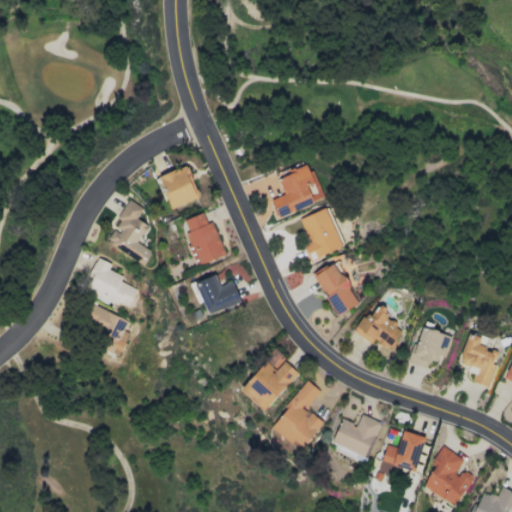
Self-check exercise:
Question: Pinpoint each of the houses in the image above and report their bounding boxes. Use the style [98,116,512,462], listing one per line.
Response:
[92,253,140,310]
[244,361,300,410]
[156,166,200,208]
[428,450,476,508]
[408,322,456,370]
[190,276,244,314]
[376,430,427,482]
[107,198,153,264]
[276,380,326,442]
[270,162,327,220]
[300,208,345,262]
[332,413,384,464]
[353,304,406,346]
[314,264,360,316]
[481,486,512,512]
[92,300,134,354]
[462,334,512,389]
[186,213,226,264]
